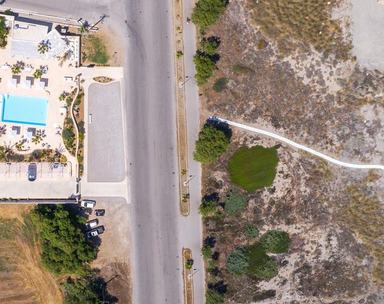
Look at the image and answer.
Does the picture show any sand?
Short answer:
Yes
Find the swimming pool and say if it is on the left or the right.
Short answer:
left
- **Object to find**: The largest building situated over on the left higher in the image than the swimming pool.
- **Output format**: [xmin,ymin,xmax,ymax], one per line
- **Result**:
[11,19,71,59]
